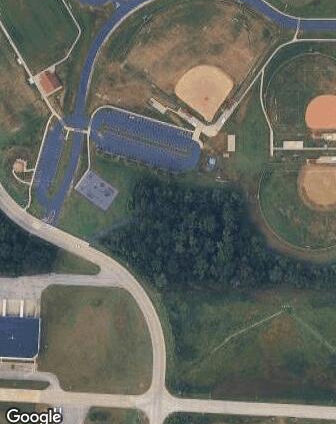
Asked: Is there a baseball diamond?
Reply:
Yes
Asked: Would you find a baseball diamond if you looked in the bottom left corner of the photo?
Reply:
No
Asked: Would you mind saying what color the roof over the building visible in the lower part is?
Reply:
blue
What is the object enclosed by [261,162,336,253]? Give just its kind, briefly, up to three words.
baseball field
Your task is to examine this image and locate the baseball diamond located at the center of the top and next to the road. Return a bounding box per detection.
[110,0,283,128]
